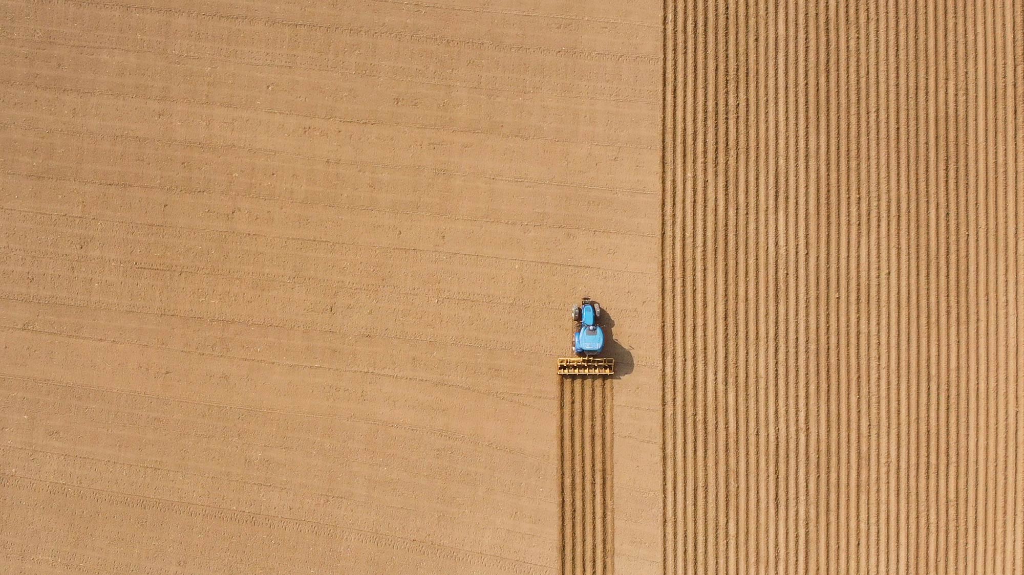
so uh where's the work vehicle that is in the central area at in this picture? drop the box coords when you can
[572,297,607,358]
